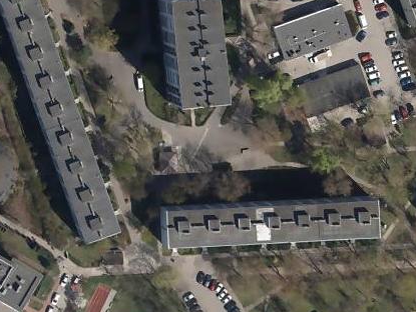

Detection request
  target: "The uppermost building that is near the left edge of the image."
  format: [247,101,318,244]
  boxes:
[0,0,121,243]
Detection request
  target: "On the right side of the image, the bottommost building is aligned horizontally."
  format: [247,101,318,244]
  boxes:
[162,199,381,255]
